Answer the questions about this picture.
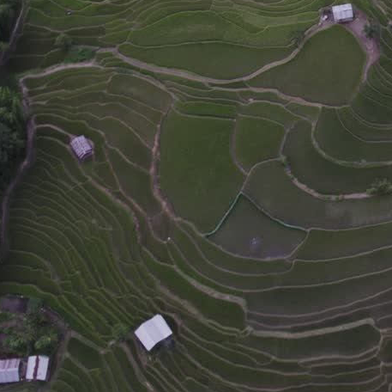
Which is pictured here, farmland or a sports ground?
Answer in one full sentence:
It's farmland.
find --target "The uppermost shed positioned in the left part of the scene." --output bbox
[70,135,97,160]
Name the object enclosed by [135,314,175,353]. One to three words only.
shed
